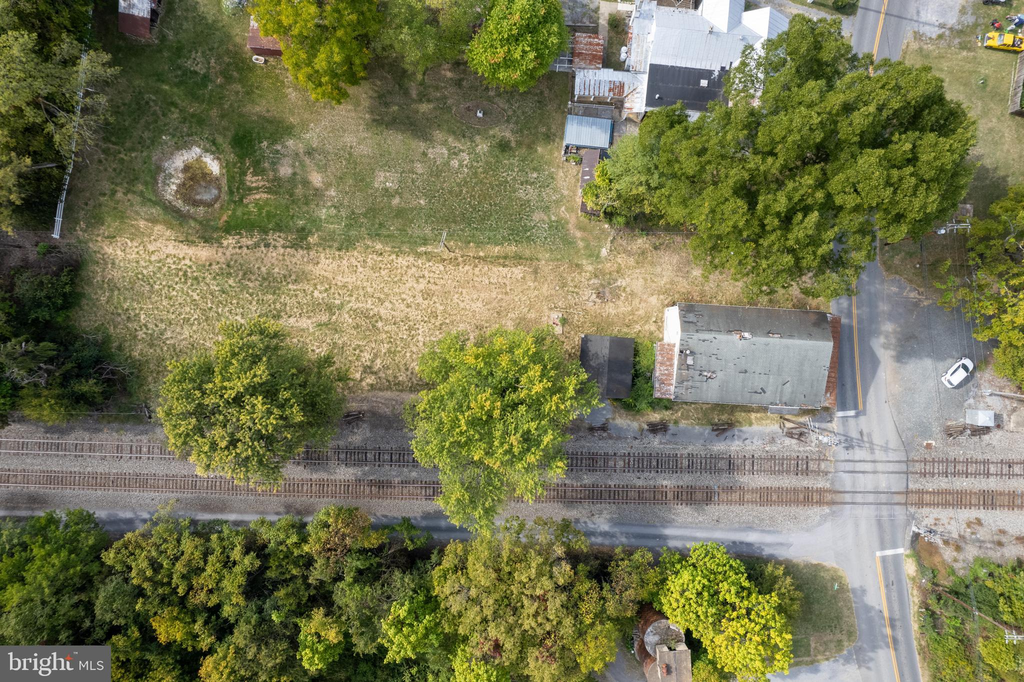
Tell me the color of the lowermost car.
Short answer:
white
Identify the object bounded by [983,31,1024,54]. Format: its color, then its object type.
yellow truck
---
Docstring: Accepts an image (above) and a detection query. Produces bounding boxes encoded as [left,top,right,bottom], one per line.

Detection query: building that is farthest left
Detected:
[118,0,159,44]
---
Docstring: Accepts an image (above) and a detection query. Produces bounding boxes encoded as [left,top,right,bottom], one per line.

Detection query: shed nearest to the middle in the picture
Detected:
[580,334,634,398]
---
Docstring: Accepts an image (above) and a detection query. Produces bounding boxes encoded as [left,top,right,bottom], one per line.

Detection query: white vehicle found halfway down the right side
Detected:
[940,358,972,390]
